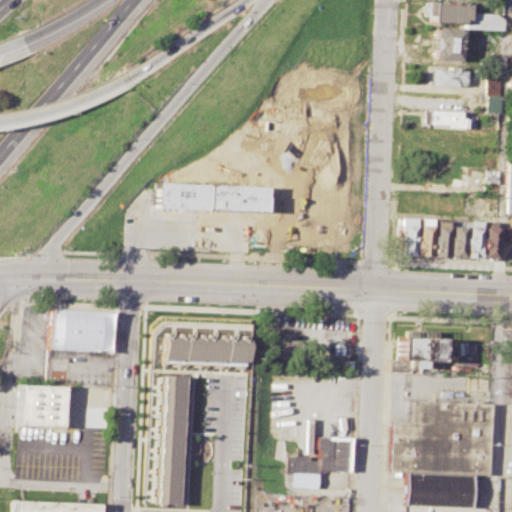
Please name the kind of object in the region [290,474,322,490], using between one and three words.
shed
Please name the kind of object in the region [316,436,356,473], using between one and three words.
building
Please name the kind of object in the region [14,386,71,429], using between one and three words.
building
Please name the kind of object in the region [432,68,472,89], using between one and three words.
house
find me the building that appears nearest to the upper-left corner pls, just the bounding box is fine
[153,184,216,212]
